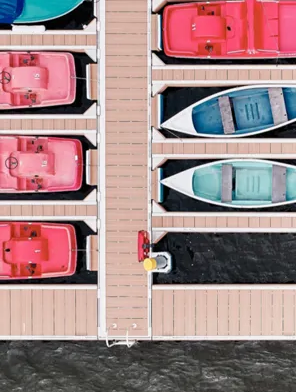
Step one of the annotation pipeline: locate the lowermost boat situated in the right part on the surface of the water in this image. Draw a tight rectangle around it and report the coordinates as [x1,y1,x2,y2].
[160,159,296,207]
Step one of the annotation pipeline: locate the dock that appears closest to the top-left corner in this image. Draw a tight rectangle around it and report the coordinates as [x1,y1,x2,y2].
[0,16,98,64]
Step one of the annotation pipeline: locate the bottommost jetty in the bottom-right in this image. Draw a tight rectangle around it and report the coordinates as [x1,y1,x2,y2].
[153,285,296,341]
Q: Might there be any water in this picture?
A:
Yes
